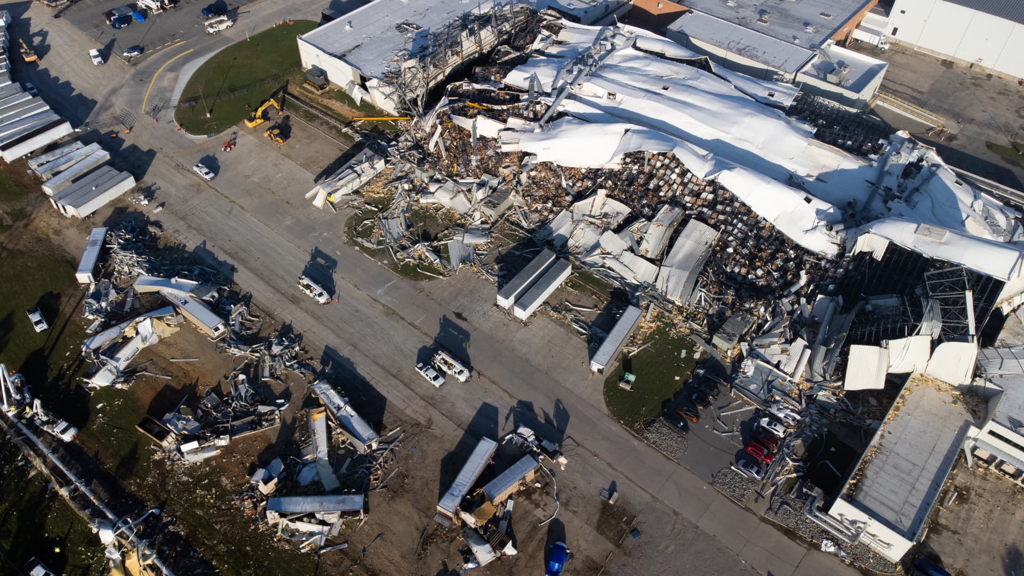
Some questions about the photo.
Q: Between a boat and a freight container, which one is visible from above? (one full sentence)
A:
Of the two, only a freight container appears.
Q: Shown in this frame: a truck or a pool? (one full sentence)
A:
The image shows a truck.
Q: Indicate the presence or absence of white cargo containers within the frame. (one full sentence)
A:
No, the photo shows no white cargo container.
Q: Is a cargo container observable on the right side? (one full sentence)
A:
No, no cargo container is visible on the right side.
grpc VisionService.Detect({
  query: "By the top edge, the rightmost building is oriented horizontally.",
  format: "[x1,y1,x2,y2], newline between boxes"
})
[883,0,1024,76]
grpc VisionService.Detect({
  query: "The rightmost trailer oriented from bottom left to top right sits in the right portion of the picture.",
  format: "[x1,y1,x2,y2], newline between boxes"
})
[591,305,642,375]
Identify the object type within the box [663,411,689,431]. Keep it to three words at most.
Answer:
car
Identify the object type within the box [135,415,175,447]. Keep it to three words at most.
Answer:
shipping container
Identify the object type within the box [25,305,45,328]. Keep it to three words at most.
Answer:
vehicle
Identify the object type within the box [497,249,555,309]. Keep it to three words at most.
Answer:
trailer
